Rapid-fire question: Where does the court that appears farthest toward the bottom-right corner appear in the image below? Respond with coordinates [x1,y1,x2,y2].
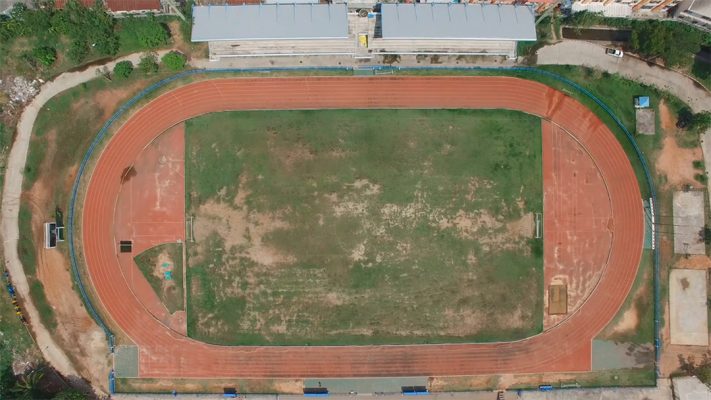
[669,269,707,345]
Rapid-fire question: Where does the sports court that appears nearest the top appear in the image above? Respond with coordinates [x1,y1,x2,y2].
[674,192,703,253]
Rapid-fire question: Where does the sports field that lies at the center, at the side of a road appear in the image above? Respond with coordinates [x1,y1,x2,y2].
[186,108,544,345]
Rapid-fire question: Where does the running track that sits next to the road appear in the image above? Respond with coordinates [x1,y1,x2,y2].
[81,76,644,380]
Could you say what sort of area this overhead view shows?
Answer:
sports ground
